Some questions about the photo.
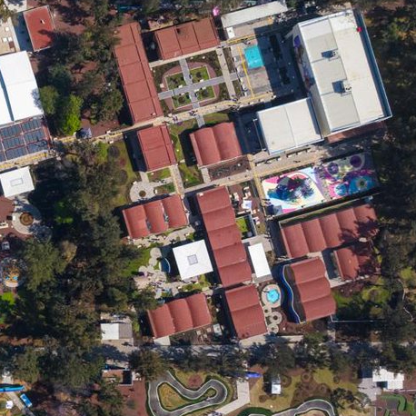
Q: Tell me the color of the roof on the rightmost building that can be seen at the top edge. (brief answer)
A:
white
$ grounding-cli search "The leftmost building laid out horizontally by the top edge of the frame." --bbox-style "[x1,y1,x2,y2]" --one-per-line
[154,18,220,62]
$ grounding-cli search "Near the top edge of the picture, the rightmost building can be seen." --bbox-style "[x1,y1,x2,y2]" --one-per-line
[284,9,392,135]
